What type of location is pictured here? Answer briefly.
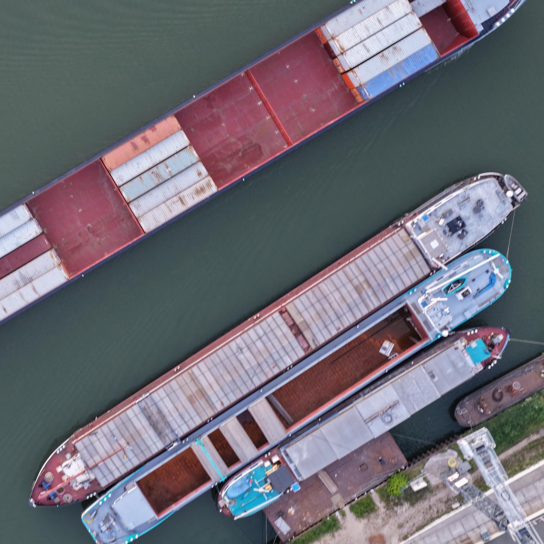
port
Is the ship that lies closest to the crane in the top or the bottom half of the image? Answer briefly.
bottom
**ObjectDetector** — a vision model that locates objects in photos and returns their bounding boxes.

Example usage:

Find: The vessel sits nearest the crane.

[452,352,544,427]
